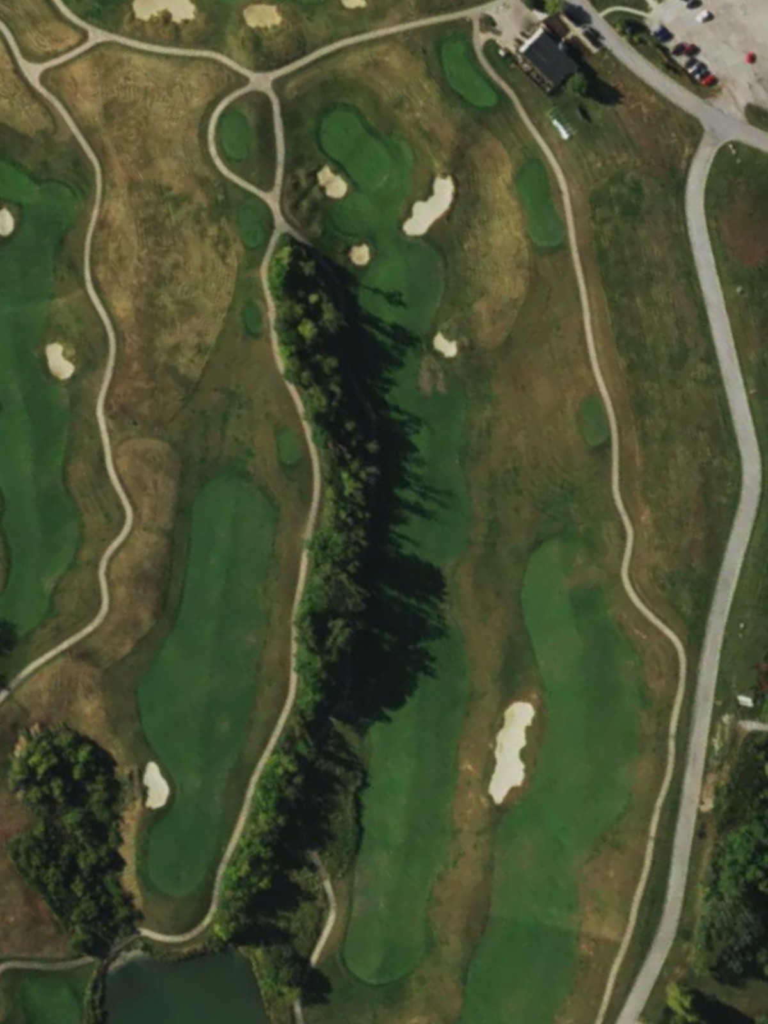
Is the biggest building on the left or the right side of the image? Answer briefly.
right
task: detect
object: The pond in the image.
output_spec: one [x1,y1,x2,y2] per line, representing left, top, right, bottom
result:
[101,944,266,1024]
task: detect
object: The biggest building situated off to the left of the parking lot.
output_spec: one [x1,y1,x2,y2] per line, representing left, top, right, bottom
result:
[516,23,581,95]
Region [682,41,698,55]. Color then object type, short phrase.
red car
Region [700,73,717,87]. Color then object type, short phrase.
red car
